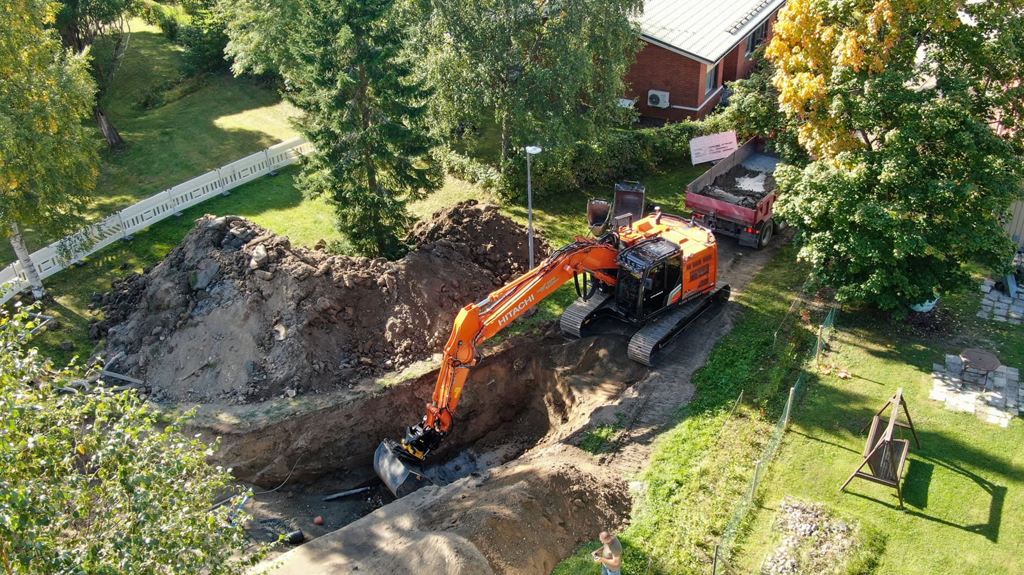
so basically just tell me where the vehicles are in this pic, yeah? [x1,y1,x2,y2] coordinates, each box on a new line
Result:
[681,134,788,255]
[366,203,730,496]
